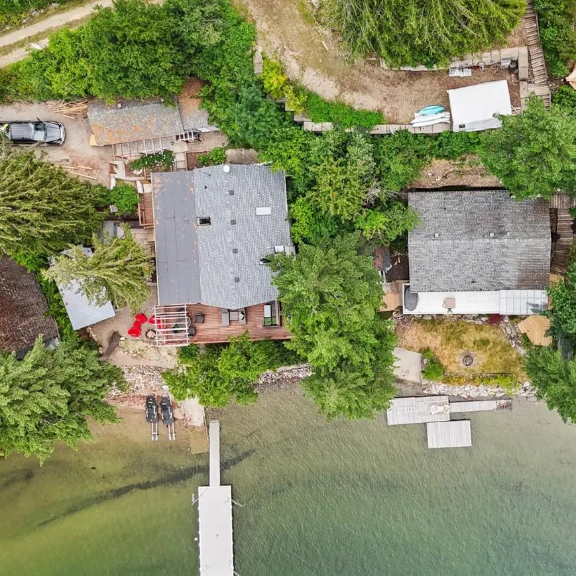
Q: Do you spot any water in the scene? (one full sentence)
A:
Yes, some water is visible.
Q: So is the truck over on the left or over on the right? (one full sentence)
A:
The truck sits on the left side.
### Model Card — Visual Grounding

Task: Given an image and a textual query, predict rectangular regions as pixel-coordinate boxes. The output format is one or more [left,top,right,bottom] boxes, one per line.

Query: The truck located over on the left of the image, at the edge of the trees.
[0,114,63,146]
